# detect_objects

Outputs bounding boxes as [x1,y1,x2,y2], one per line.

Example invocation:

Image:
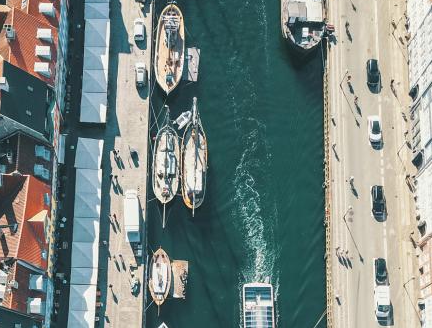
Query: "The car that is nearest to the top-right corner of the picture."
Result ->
[366,62,382,92]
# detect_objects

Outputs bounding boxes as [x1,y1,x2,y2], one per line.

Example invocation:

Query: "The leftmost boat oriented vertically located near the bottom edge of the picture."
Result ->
[148,243,171,319]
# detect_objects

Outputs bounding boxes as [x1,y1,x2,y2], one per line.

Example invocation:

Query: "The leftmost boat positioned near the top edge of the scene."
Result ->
[155,0,185,99]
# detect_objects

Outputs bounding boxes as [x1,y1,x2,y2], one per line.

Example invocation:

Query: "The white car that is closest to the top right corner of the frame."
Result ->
[366,116,383,144]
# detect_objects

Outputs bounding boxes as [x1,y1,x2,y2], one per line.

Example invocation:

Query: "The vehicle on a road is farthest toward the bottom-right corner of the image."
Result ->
[373,284,392,321]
